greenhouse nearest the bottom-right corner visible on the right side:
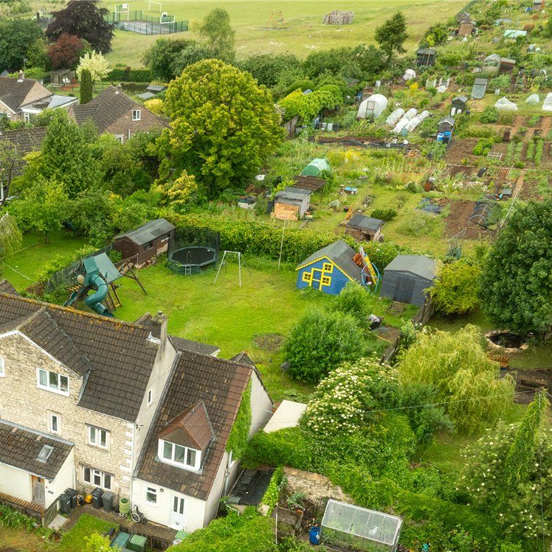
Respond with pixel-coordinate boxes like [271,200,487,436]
[324,497,408,552]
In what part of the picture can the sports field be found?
top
